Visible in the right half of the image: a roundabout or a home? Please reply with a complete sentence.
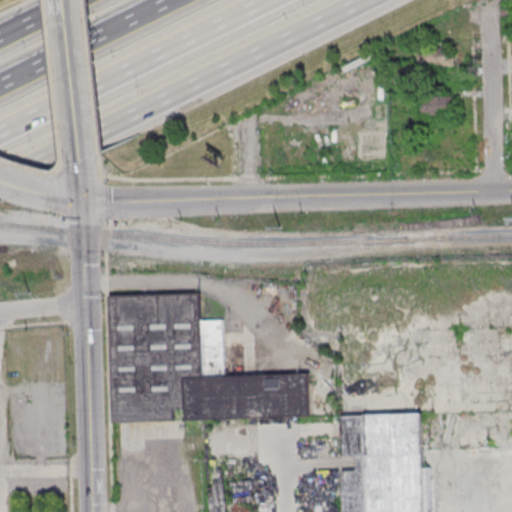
The one visible in the right half of the image is a home.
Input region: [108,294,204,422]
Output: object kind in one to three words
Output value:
building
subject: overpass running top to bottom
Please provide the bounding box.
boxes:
[40,0,102,164]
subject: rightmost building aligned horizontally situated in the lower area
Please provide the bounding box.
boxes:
[182,370,313,420]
